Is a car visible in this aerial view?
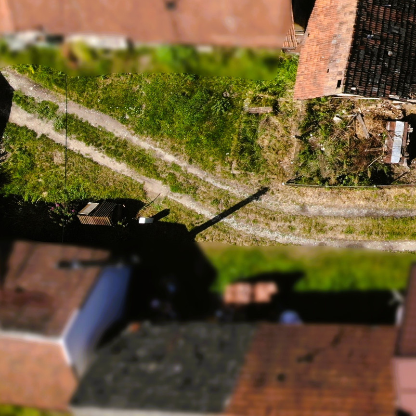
No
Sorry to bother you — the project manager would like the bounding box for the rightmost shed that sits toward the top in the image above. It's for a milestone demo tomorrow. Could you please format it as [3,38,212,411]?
[380,119,416,169]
